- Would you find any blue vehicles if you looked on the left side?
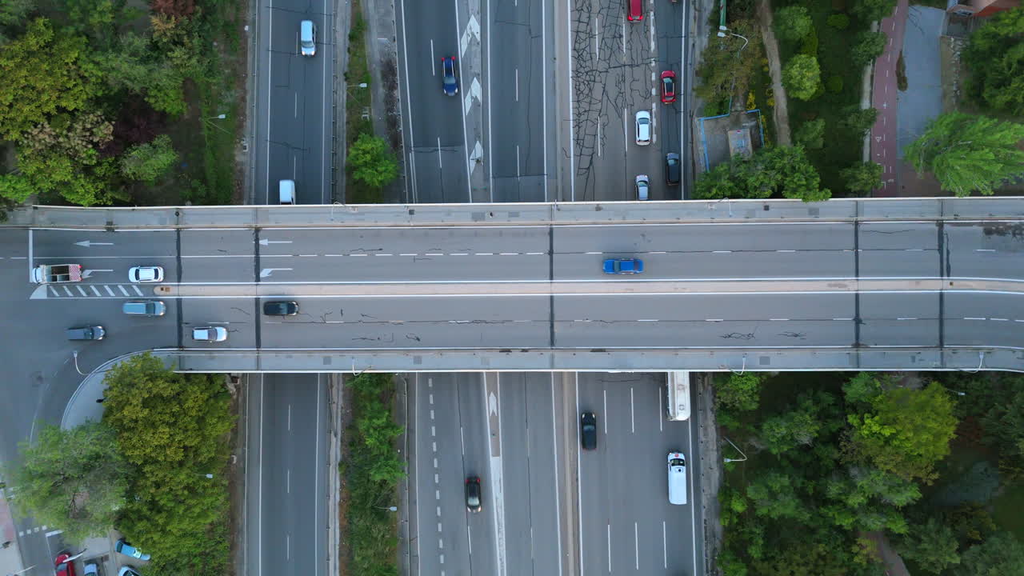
Yes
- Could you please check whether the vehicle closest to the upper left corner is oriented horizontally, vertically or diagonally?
horizontally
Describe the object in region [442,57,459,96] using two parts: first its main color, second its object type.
blue car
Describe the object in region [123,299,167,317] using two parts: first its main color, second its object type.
blue car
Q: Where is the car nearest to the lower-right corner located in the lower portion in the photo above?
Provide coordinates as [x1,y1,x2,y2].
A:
[666,451,688,506]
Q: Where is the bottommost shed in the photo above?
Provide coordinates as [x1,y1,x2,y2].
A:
[724,130,752,162]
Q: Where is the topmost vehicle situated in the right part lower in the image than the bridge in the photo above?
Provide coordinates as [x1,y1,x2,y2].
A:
[666,371,692,423]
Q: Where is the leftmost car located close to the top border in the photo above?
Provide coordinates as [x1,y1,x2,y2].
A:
[299,19,318,58]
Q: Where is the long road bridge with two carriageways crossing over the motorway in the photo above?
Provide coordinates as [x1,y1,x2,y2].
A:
[32,196,1024,373]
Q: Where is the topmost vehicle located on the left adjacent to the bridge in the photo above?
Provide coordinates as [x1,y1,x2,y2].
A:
[278,177,297,204]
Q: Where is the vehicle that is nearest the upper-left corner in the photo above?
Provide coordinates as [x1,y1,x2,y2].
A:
[33,264,84,284]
